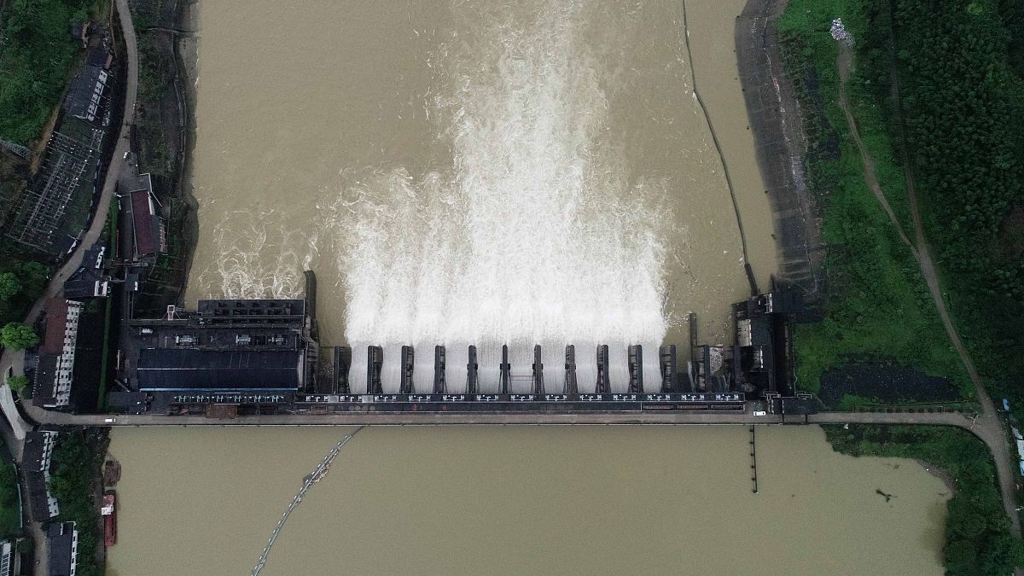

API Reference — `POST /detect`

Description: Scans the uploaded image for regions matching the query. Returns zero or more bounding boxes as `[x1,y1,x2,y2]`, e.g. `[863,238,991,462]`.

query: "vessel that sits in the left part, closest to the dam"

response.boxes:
[104,461,120,486]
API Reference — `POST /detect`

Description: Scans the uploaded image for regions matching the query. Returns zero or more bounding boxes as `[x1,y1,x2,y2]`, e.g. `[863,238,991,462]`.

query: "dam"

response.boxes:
[108,346,925,427]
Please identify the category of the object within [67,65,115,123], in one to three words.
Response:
building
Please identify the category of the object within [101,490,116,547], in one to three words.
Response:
boat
